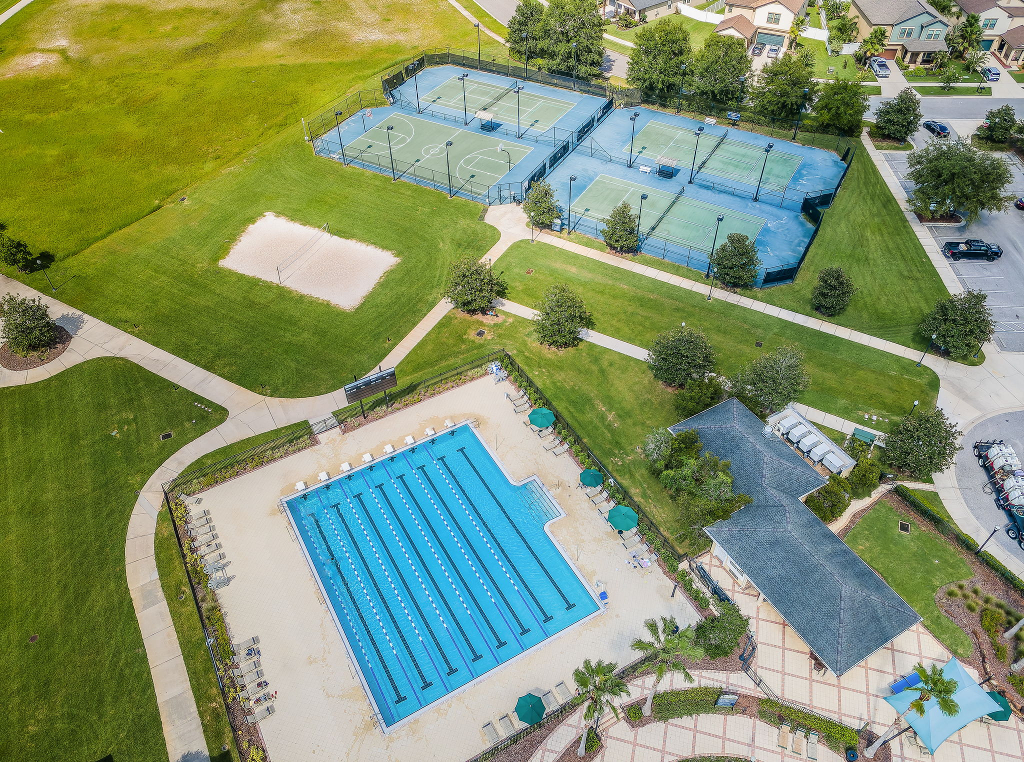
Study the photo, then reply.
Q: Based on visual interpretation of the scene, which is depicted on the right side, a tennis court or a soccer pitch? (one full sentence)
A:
It is a tennis court that can be seen on the right side.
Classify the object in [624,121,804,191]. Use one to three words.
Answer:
tennis court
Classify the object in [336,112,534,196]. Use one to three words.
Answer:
basketball court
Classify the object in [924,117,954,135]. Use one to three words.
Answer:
car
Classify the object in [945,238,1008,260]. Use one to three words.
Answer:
truck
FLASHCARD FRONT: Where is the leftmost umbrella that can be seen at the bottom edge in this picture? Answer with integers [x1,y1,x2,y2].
[513,691,548,727]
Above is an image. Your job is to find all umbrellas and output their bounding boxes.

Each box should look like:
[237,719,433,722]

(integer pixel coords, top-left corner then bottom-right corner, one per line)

[606,506,640,534]
[513,691,548,727]
[528,409,555,429]
[578,467,605,490]
[979,687,1018,726]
